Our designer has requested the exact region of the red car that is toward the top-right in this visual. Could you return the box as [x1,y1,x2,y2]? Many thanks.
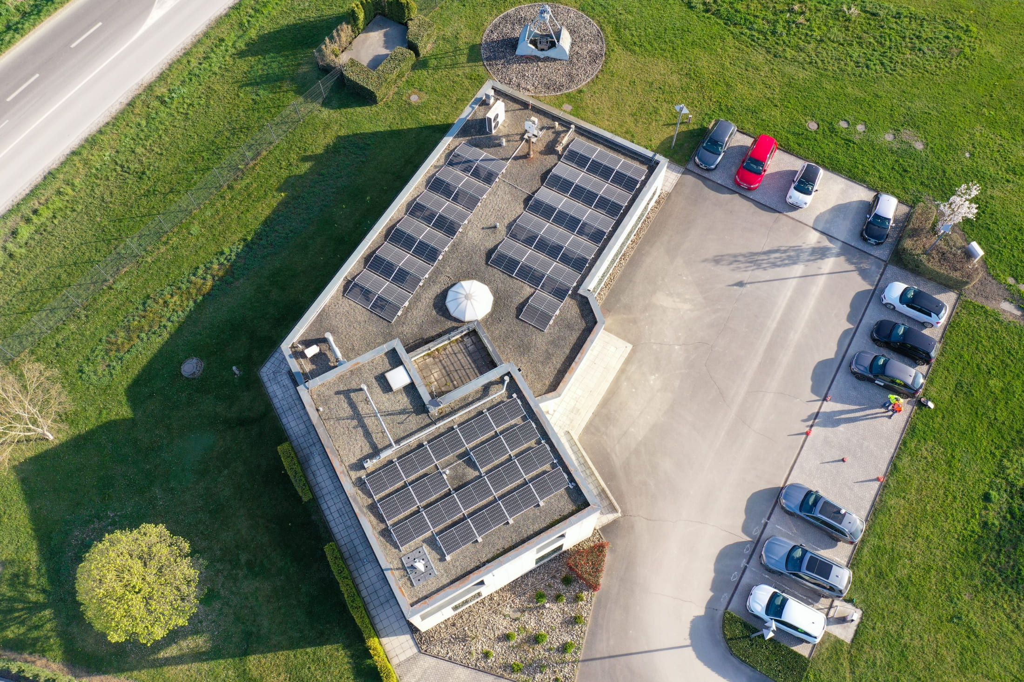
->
[737,134,782,190]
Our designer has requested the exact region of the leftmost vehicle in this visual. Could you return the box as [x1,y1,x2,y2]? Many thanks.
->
[694,117,739,173]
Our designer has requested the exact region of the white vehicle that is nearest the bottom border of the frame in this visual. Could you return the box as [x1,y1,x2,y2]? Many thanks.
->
[743,586,833,651]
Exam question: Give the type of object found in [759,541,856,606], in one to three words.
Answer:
car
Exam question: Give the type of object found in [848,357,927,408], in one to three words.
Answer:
car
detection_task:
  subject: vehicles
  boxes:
[743,586,833,651]
[759,541,856,606]
[694,117,739,173]
[776,485,869,548]
[737,134,782,190]
[879,288,949,334]
[869,324,941,371]
[848,357,927,408]
[785,160,824,209]
[859,191,902,246]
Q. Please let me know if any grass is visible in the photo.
Yes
